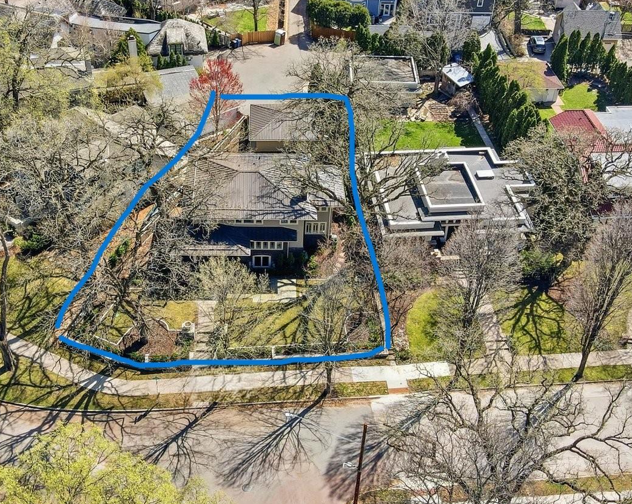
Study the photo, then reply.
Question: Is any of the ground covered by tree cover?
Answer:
Yes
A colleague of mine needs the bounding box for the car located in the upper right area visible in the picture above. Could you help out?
[526,38,550,51]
